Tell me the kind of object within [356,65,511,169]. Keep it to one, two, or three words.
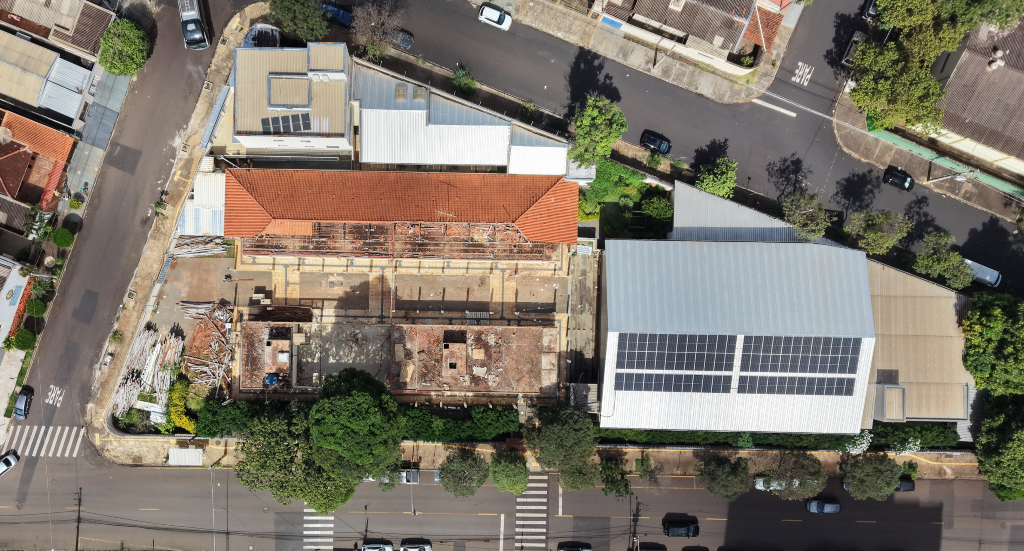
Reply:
building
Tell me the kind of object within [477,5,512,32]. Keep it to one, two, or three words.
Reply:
car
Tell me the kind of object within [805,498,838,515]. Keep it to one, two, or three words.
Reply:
car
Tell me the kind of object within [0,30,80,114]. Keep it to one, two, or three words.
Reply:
house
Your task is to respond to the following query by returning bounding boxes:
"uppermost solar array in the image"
[261,113,311,134]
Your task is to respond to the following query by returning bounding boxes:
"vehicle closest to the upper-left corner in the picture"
[180,0,217,55]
